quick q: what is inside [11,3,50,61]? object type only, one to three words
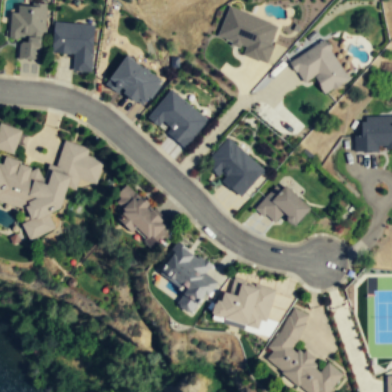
house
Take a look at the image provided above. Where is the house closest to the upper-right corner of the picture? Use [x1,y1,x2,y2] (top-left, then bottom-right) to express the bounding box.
[292,40,354,96]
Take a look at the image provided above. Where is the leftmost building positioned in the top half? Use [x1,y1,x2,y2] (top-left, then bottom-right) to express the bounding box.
[0,123,23,155]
